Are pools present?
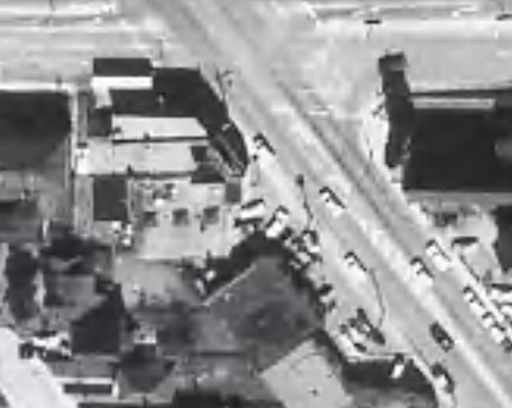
No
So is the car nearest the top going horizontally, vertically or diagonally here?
diagonally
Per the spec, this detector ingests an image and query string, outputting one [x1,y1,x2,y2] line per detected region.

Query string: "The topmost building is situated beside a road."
[90,77,153,110]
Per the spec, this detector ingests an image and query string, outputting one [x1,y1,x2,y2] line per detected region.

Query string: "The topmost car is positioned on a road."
[252,132,276,158]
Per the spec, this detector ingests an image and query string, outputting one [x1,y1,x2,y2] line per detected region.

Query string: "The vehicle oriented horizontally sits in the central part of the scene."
[238,203,268,219]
